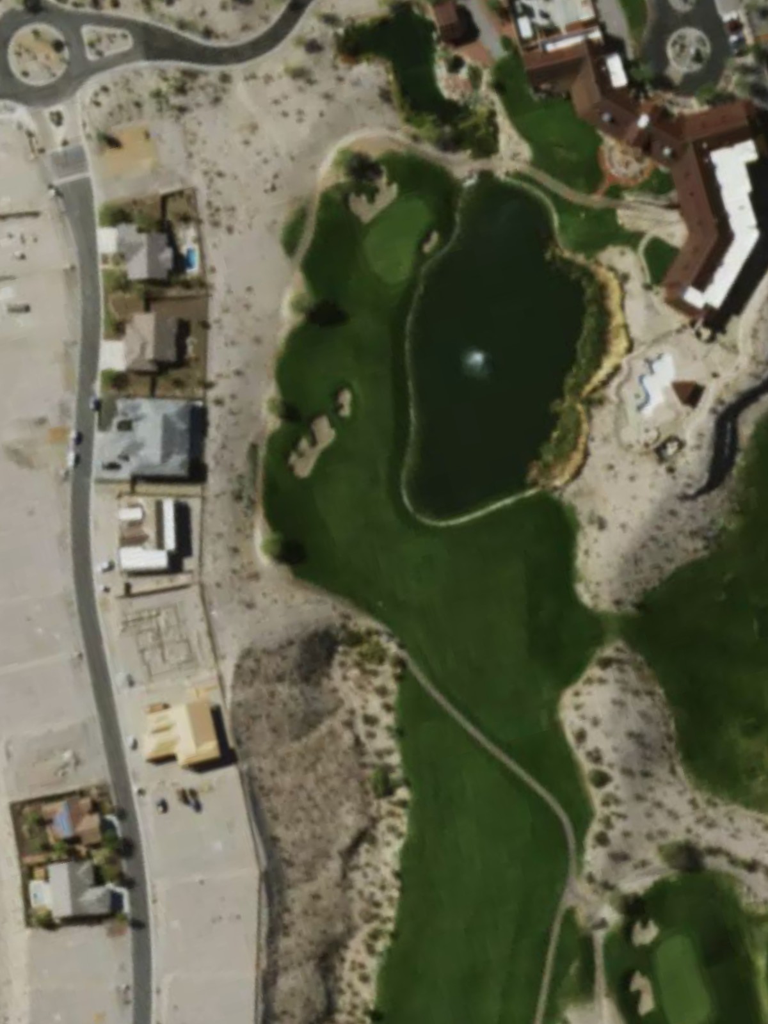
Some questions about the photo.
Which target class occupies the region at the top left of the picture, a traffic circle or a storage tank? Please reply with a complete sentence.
Visible at the top left of the picture is a traffic circle.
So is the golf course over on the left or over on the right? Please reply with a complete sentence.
You can find the golf course on the right side of the picture.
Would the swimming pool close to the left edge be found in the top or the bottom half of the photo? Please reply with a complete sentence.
The bottom half of the photo is where the swimming pool close to the left edge is.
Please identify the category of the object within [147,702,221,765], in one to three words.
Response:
house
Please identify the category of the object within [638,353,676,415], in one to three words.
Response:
swimming pool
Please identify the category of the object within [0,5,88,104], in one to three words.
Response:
roundabout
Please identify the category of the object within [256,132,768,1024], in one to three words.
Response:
golf course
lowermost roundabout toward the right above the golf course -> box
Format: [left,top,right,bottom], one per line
[666,26,712,84]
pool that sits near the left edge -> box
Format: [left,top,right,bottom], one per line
[29,881,52,907]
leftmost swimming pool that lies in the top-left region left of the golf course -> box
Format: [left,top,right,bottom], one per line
[178,242,200,273]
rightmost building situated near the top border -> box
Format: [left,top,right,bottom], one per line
[511,0,759,318]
